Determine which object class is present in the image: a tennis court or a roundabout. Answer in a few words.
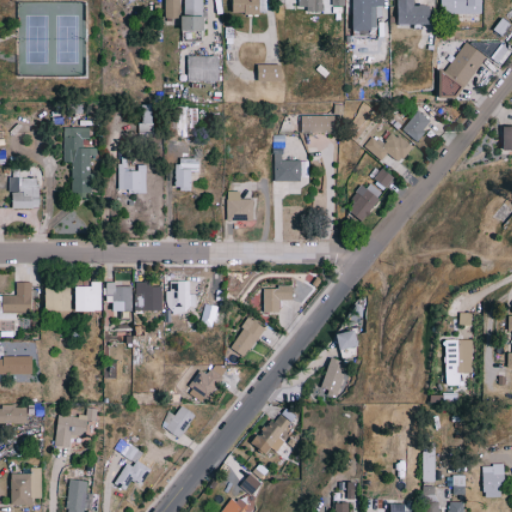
tennis court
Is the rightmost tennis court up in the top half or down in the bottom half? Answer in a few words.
top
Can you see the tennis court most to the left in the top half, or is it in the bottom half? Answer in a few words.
top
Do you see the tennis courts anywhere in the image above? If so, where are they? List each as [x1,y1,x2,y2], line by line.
[52,2,86,75]
[18,2,52,75]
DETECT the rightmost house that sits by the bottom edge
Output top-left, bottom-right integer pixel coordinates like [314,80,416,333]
[482,464,506,498]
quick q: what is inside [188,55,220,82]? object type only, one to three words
building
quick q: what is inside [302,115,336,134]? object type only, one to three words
house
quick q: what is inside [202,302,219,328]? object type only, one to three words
building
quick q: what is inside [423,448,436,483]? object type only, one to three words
house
